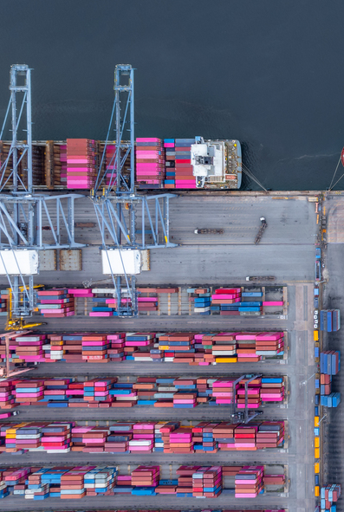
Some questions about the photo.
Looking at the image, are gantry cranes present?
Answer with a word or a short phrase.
Yes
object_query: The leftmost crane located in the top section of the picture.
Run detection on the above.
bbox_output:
[0,63,99,320]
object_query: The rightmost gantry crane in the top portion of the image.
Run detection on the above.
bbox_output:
[83,63,192,319]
